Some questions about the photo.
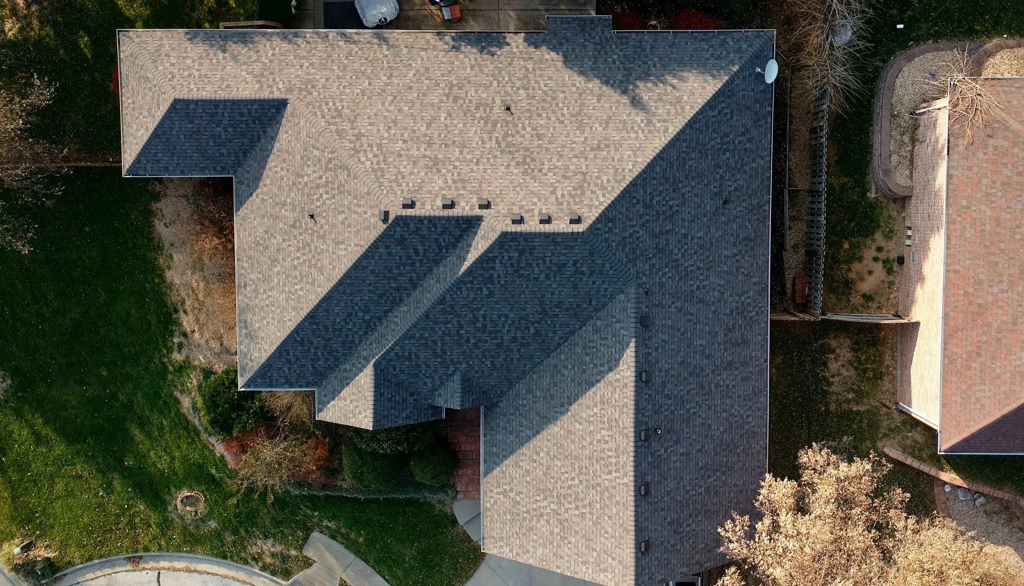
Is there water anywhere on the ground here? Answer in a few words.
No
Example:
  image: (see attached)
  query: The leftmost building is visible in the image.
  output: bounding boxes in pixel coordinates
[117,16,776,586]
